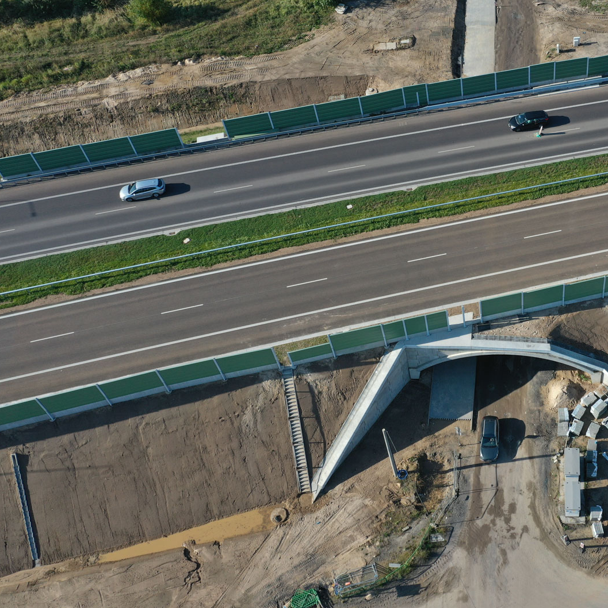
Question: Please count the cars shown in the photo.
three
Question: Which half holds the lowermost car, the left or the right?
right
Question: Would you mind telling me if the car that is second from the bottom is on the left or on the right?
left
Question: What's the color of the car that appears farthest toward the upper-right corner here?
black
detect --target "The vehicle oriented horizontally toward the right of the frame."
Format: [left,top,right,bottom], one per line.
[507,107,551,130]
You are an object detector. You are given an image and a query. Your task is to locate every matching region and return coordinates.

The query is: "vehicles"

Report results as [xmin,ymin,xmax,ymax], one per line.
[507,107,551,130]
[476,418,502,467]
[119,176,165,202]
